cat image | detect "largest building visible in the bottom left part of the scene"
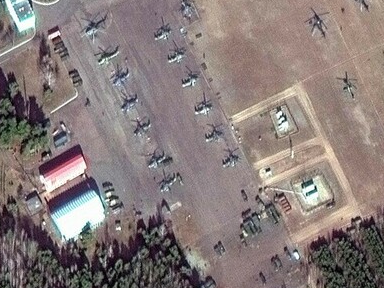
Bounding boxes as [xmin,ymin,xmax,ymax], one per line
[48,190,105,237]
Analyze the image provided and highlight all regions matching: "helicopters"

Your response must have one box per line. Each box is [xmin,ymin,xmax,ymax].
[156,180,178,196]
[221,153,242,170]
[147,154,167,172]
[193,100,216,117]
[339,78,357,97]
[131,123,153,140]
[306,13,329,35]
[205,127,227,145]
[119,98,140,116]
[168,50,188,66]
[97,51,120,68]
[82,21,107,42]
[181,73,203,89]
[154,25,176,43]
[178,2,197,20]
[110,73,132,90]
